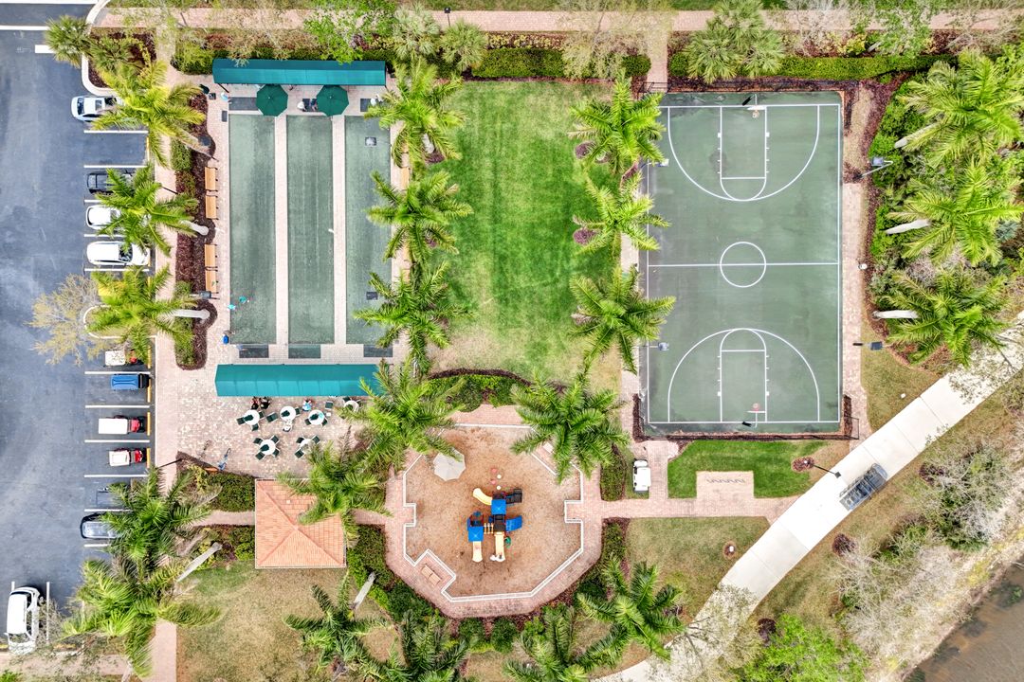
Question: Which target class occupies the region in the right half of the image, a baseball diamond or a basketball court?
basketball court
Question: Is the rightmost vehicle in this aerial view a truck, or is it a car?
car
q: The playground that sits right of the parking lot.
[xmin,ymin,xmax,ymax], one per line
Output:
[401,423,584,604]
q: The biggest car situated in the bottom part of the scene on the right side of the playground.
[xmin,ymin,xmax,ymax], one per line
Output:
[835,461,890,510]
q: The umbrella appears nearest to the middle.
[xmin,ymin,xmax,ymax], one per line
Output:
[435,449,466,480]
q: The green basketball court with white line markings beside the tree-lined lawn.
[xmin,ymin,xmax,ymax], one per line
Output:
[638,92,843,437]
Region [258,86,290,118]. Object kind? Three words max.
umbrella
